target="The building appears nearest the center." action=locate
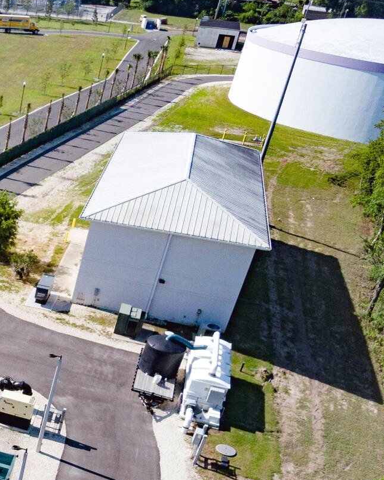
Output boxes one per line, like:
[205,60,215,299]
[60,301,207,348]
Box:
[69,130,273,334]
